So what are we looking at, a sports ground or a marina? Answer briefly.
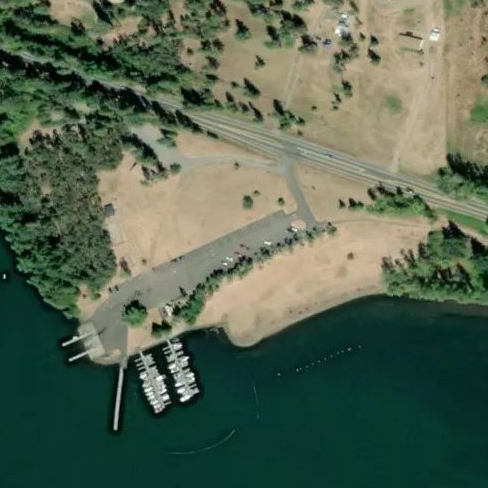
marina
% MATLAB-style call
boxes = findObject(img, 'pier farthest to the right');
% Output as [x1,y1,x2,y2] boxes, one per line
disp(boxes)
[162,339,196,396]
